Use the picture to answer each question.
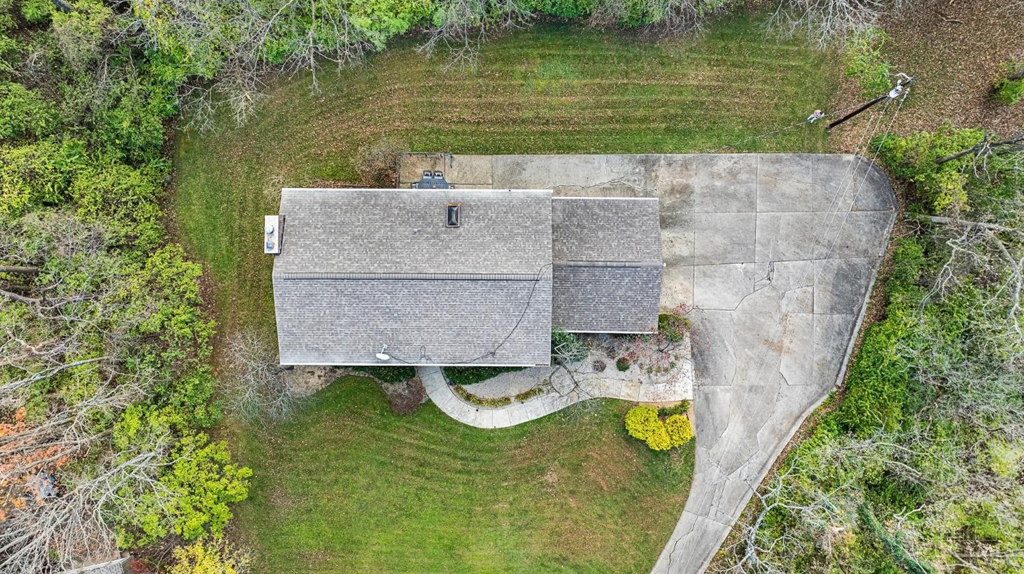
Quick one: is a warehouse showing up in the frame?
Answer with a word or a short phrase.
No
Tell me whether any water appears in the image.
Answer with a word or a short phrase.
No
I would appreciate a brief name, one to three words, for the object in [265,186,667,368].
house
